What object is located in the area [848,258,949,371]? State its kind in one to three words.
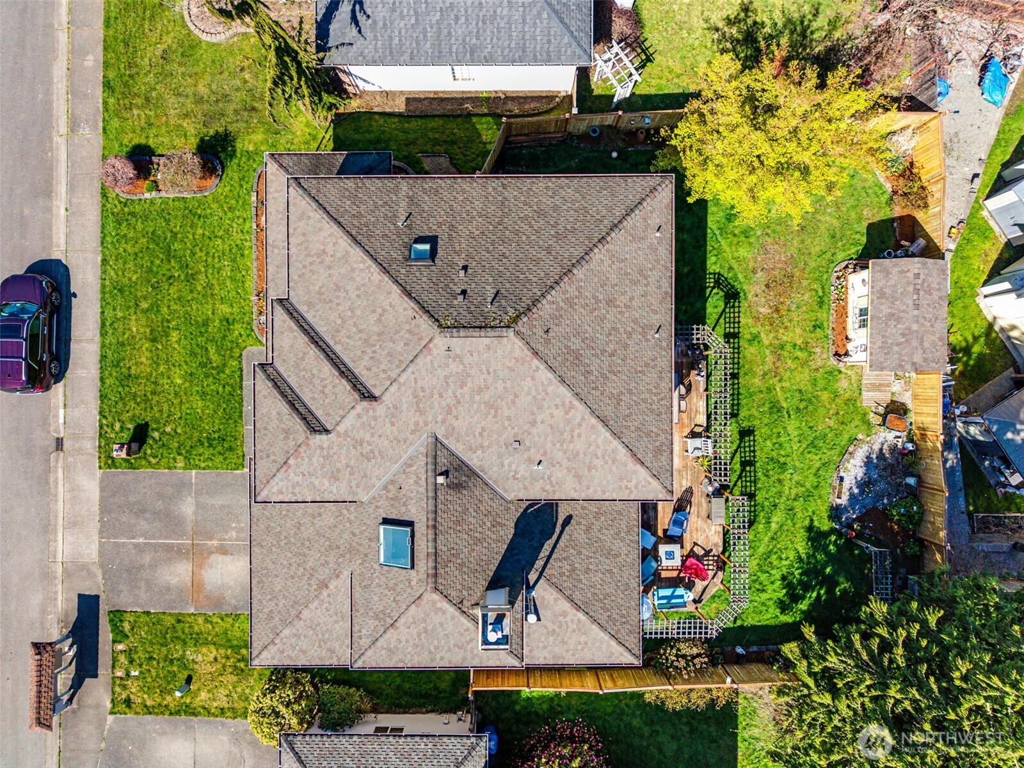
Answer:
shed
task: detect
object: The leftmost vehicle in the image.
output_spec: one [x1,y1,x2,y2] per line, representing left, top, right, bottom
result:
[0,274,61,394]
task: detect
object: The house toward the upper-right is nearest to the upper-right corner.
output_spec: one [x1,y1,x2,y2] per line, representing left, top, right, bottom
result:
[984,177,1024,239]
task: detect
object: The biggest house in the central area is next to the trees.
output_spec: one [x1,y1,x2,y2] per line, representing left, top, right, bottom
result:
[248,151,675,671]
